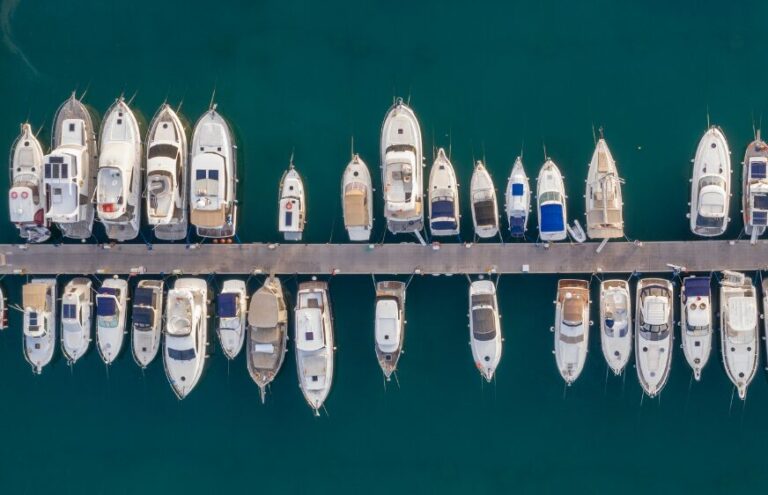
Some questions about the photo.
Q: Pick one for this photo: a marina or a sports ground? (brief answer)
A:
marina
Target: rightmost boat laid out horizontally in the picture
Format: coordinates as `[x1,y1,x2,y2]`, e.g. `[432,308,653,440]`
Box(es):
[722,270,748,284]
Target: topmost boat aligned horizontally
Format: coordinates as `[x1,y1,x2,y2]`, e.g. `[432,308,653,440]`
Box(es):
[16,229,48,242]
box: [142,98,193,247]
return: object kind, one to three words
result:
boat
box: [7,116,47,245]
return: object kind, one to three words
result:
boat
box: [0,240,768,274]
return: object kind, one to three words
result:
pier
